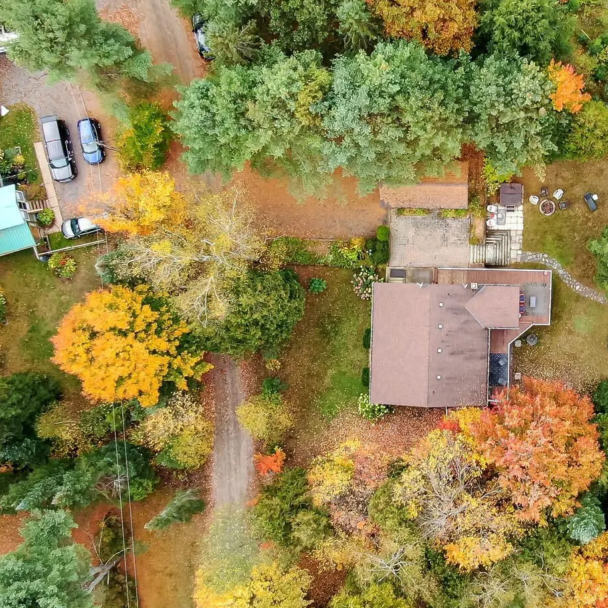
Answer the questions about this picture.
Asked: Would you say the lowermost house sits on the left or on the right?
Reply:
right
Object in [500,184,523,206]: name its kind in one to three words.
shed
